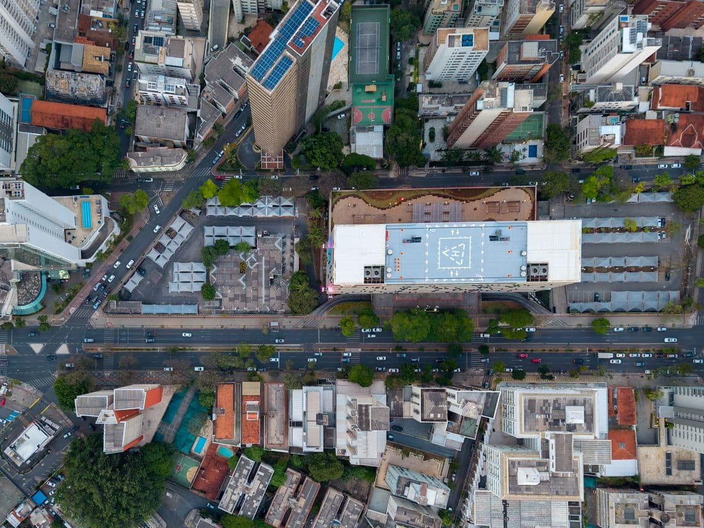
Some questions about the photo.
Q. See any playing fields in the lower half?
No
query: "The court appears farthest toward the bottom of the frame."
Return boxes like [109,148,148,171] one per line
[170,455,200,487]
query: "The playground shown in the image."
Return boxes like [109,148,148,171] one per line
[353,83,395,106]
